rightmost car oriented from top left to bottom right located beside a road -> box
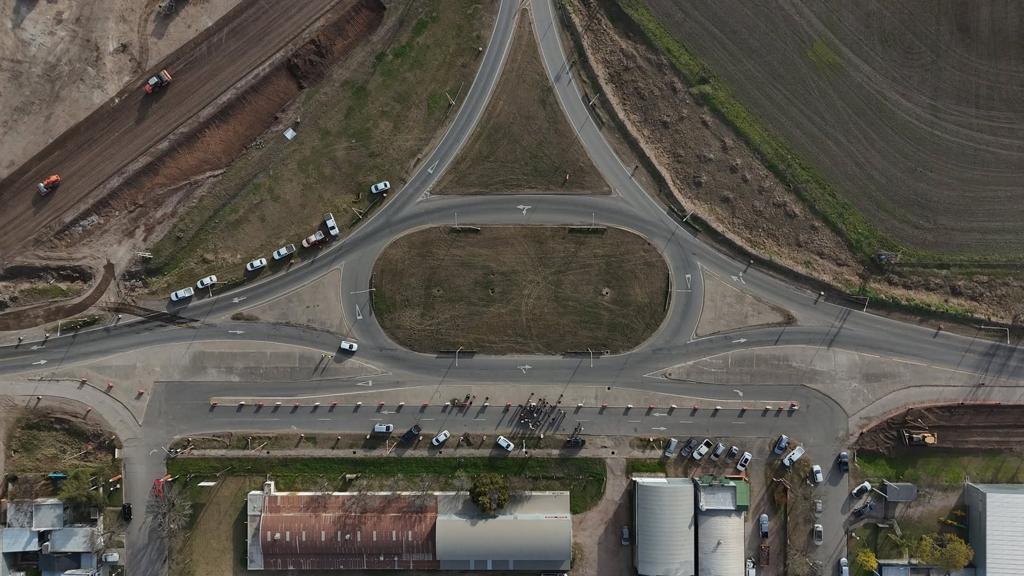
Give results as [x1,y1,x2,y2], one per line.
[495,436,514,451]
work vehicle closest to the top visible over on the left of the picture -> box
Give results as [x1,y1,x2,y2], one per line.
[144,70,168,89]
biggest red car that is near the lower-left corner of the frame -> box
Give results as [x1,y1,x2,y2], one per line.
[152,480,164,498]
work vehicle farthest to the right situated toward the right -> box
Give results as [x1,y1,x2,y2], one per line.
[903,430,932,447]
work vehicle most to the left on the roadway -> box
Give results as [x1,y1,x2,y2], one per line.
[33,175,56,194]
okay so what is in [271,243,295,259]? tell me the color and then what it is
white vehicle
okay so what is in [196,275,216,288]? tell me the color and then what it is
white vehicle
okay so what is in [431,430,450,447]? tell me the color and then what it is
white car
